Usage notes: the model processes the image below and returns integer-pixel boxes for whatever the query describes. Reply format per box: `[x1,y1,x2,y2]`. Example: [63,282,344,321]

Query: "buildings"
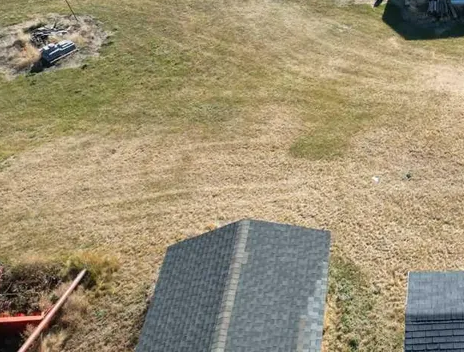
[404,269,464,352]
[133,217,332,352]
